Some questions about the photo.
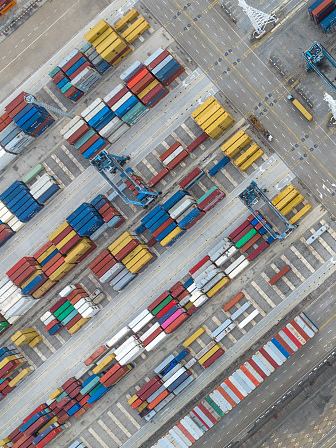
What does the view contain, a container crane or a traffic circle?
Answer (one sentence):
It is a container crane that can be seen here.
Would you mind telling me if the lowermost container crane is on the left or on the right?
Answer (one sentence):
You can find the lowermost container crane on the right side of the picture.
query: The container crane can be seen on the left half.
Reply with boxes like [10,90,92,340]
[95,149,171,210]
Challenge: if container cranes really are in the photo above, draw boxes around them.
[239,181,302,241]
[95,149,171,210]
[300,37,336,94]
